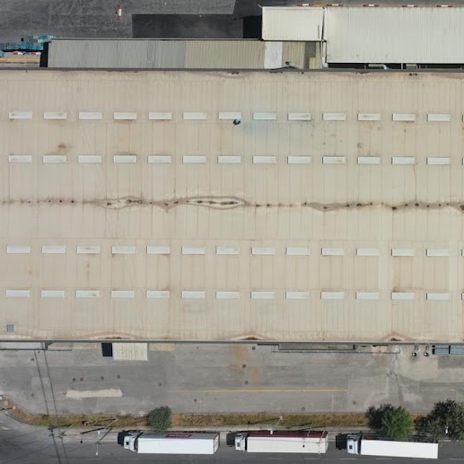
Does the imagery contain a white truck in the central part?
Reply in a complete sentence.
No, there's no white truck to be seen in the central part.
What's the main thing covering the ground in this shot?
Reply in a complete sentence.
The bulk of the photo consists of buildings.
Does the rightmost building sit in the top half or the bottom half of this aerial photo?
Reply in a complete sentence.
The top half of the photo is where the rightmost building is.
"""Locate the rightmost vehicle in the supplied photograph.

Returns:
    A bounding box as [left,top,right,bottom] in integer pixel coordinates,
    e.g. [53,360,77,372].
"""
[342,431,439,458]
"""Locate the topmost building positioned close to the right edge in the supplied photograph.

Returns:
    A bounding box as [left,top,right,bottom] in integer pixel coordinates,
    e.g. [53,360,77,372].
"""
[323,6,464,65]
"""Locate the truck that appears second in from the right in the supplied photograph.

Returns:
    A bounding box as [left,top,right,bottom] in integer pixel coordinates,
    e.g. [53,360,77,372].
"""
[230,429,328,452]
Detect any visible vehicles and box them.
[124,431,219,455]
[230,429,328,452]
[342,431,439,458]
